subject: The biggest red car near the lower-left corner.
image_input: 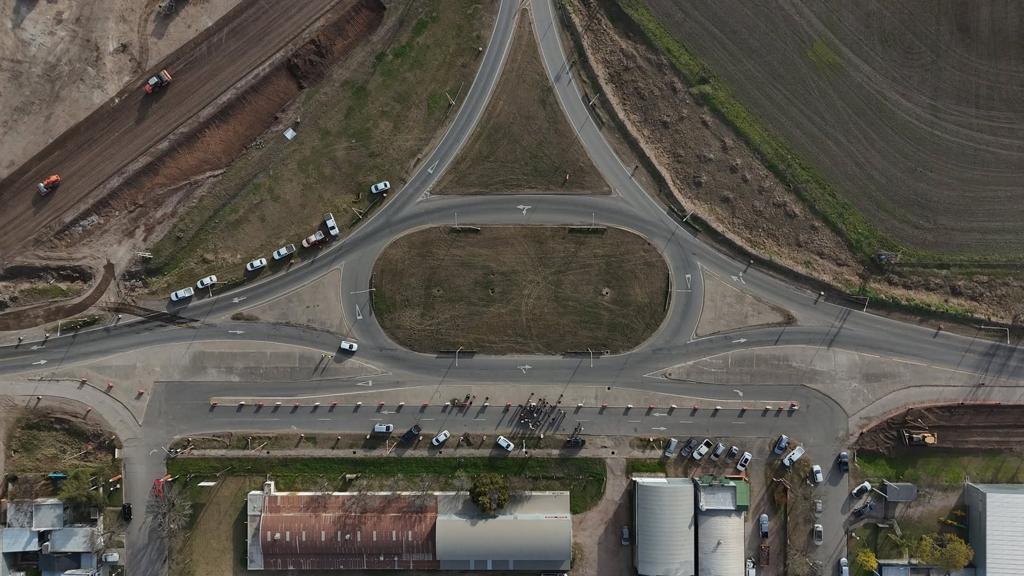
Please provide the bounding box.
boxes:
[152,480,164,498]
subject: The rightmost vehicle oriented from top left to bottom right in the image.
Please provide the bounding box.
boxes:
[495,436,514,451]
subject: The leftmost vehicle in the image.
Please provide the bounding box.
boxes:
[33,175,56,194]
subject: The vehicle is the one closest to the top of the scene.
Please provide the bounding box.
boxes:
[144,70,168,89]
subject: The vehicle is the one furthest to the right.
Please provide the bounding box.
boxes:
[903,430,932,447]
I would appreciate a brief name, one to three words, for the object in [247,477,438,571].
building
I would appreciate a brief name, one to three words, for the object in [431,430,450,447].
car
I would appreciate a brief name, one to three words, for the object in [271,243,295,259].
vehicle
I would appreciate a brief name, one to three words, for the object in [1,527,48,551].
house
